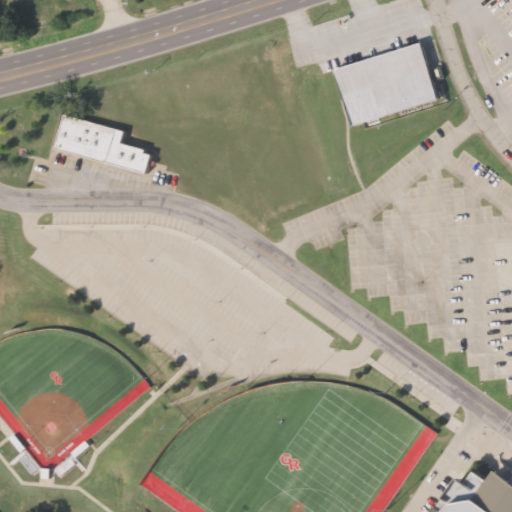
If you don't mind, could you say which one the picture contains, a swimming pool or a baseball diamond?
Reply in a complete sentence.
There is a baseball diamond in the scene.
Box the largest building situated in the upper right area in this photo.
[333,42,440,126]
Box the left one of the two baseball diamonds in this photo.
[0,328,152,466]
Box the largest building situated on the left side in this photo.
[54,114,154,174]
